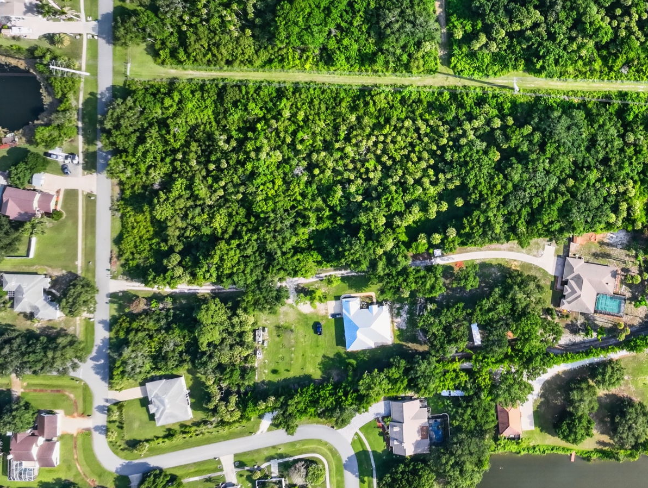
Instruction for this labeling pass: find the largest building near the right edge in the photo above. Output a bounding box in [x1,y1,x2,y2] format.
[560,256,618,313]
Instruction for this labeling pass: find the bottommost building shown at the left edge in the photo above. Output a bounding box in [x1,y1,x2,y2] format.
[10,413,61,466]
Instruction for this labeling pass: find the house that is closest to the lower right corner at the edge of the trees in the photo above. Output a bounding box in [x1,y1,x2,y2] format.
[498,399,522,439]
